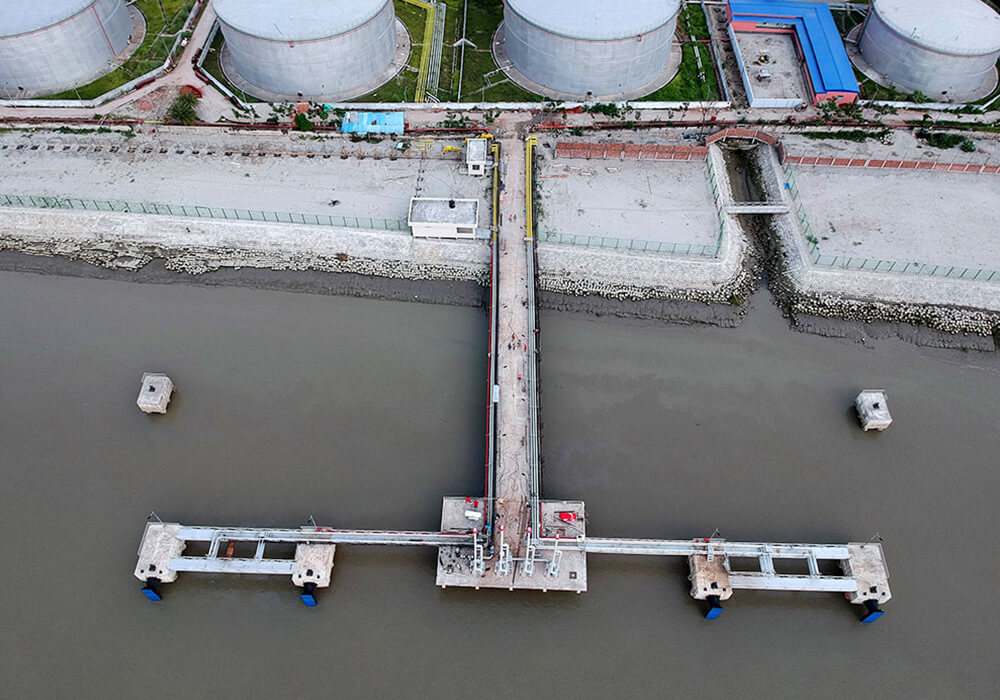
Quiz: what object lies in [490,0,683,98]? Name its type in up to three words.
storage tank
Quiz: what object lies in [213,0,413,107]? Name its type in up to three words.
storage tank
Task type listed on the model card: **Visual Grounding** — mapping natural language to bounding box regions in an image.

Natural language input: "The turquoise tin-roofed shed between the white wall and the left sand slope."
[342,112,404,138]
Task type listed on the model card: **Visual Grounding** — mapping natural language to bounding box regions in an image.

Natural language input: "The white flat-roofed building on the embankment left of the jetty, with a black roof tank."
[408,197,479,239]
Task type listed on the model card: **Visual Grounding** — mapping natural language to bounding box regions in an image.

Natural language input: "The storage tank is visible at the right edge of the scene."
[844,0,1000,103]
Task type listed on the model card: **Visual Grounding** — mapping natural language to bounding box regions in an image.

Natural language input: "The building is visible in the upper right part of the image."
[726,0,857,104]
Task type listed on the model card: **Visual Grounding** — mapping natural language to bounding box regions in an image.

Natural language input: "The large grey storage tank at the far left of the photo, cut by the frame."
[0,0,147,98]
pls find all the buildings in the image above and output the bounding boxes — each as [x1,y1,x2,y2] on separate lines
[342,112,404,138]
[408,197,479,239]
[466,137,487,175]
[726,0,857,104]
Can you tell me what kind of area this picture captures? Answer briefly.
industrial area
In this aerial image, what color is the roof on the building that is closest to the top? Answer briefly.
blue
